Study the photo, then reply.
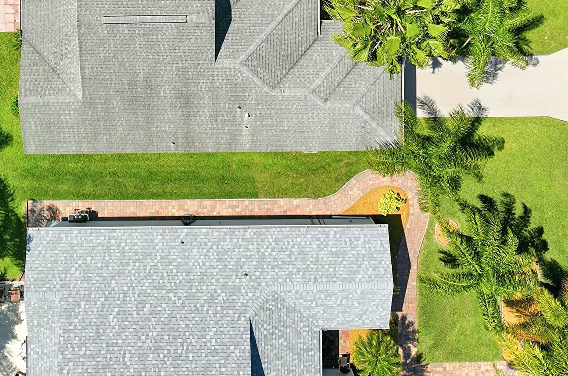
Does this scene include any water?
No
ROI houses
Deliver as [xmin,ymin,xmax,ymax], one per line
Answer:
[23,220,393,376]
[16,0,406,153]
